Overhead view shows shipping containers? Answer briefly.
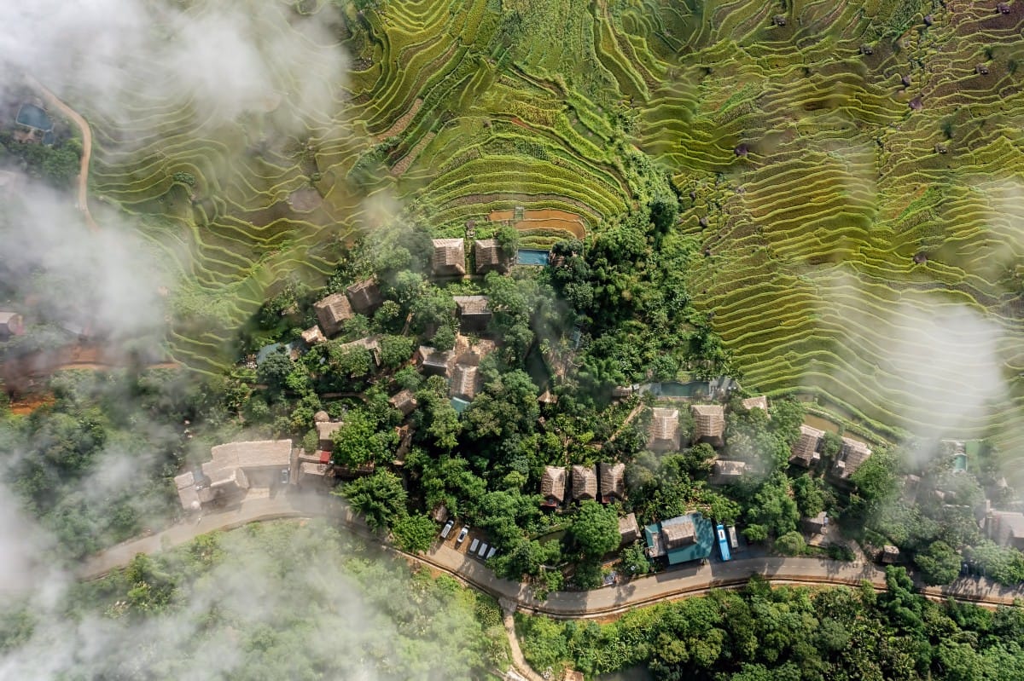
No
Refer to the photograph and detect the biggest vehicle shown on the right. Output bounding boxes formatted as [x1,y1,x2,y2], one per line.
[713,523,731,562]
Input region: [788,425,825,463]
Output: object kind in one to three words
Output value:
house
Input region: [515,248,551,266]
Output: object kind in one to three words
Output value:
swimming pool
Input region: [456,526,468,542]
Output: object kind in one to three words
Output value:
vehicle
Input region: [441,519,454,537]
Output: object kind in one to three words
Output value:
vehicle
